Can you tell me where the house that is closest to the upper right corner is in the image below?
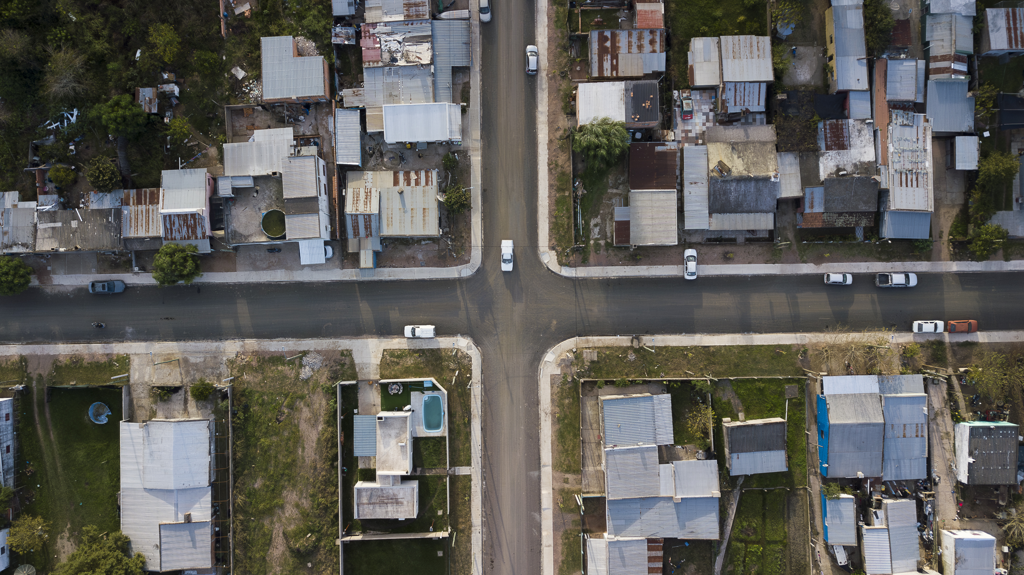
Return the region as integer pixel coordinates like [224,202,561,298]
[974,8,1024,56]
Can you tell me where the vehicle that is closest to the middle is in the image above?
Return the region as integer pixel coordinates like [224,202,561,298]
[500,239,513,272]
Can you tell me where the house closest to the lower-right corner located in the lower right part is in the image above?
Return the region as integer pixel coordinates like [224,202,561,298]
[941,530,997,575]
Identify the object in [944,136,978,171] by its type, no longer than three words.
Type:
shed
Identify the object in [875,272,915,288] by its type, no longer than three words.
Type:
vehicle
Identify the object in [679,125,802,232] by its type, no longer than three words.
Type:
house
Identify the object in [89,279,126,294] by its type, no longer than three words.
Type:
car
